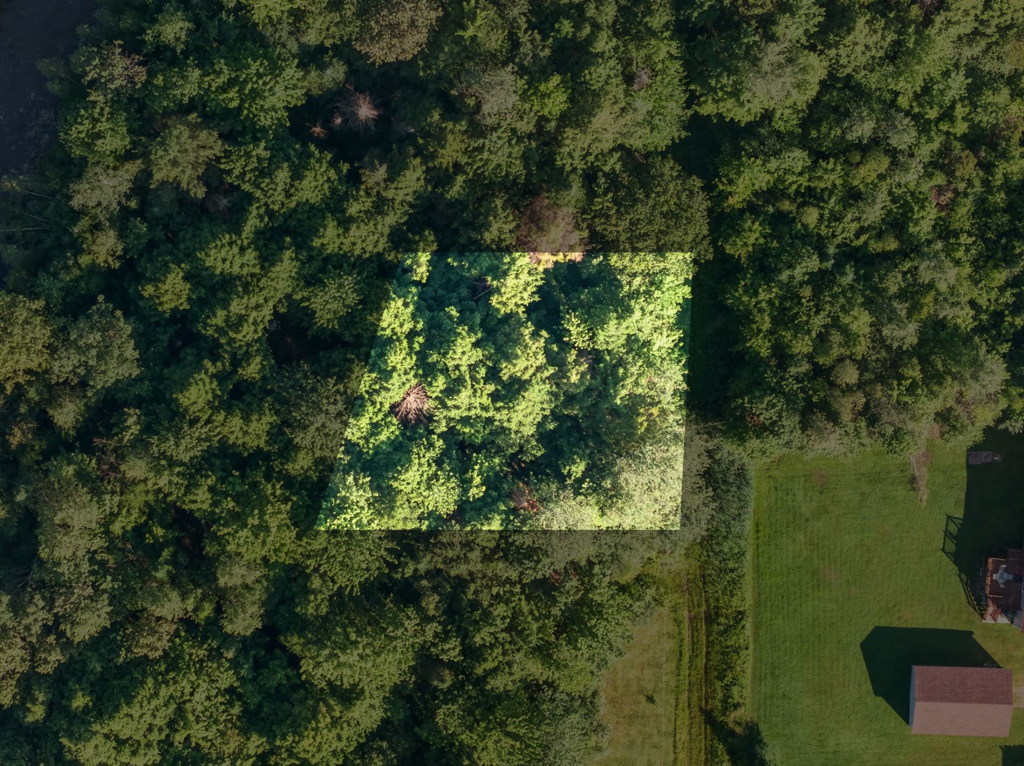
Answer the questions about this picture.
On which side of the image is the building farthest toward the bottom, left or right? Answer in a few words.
right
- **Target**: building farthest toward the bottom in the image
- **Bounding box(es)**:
[908,663,1014,739]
